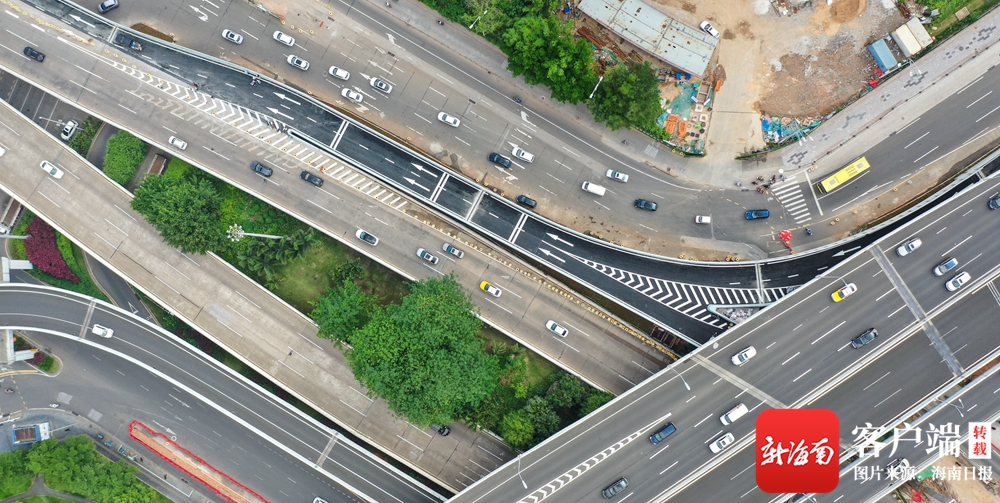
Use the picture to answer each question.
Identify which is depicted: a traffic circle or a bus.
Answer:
bus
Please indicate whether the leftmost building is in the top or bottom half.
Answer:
top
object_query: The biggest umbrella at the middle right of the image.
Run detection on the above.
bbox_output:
[777,229,791,241]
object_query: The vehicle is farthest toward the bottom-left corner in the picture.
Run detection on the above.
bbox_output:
[12,424,51,444]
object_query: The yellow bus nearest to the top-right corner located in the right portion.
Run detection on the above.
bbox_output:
[813,158,869,194]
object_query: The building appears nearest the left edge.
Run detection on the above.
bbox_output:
[566,0,720,78]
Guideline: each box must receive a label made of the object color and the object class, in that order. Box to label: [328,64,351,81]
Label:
white car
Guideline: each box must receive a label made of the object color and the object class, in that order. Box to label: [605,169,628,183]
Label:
white vehicle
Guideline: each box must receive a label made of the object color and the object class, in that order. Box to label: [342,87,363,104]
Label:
white car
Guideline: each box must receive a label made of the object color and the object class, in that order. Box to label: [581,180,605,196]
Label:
white vehicle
